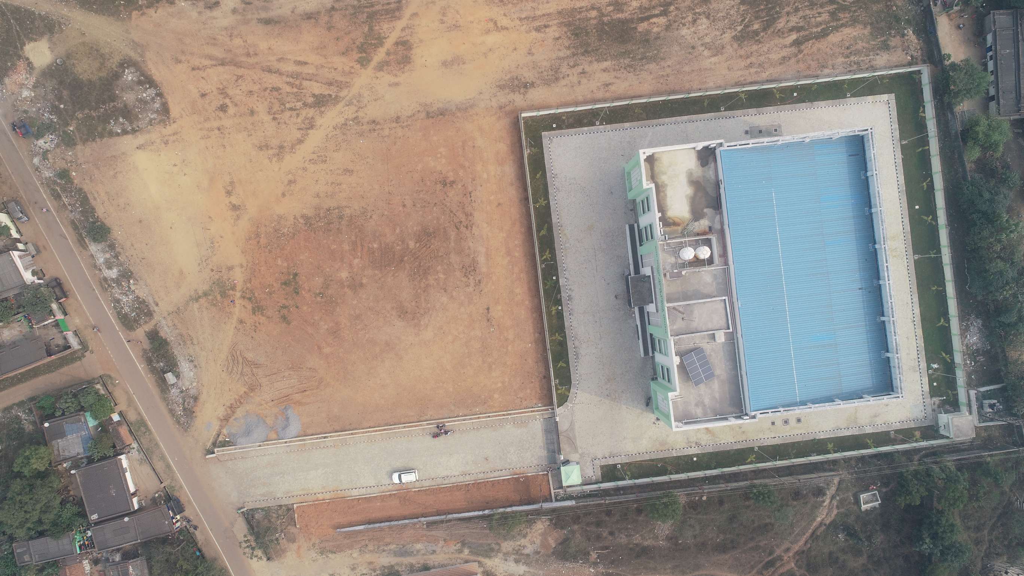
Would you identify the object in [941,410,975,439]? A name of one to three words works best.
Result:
building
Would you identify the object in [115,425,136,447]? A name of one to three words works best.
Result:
shed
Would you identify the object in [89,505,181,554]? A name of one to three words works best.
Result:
house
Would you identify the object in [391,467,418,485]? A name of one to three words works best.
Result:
car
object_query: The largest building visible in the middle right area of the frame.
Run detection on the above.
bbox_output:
[619,125,910,431]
